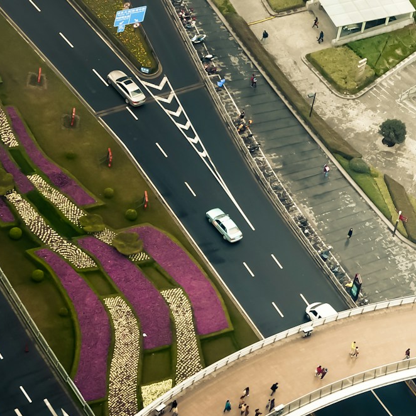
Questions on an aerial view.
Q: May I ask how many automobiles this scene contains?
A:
three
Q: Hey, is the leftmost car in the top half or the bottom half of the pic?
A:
top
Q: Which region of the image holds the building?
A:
top right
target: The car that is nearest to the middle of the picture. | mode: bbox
[204,209,245,243]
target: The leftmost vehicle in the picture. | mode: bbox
[106,71,146,107]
